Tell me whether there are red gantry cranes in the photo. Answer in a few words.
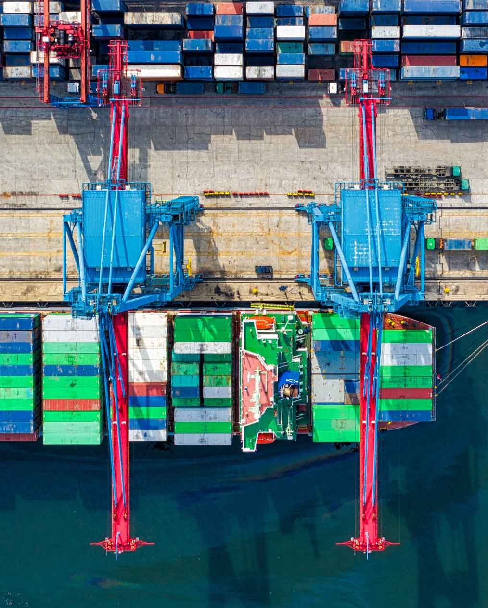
Yes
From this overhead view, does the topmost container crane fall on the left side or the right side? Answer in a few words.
left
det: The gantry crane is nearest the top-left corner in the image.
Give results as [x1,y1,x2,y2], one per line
[34,0,113,107]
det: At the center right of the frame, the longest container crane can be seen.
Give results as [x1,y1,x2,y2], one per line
[294,38,440,563]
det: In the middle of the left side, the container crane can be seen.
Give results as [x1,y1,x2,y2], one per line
[60,38,205,563]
